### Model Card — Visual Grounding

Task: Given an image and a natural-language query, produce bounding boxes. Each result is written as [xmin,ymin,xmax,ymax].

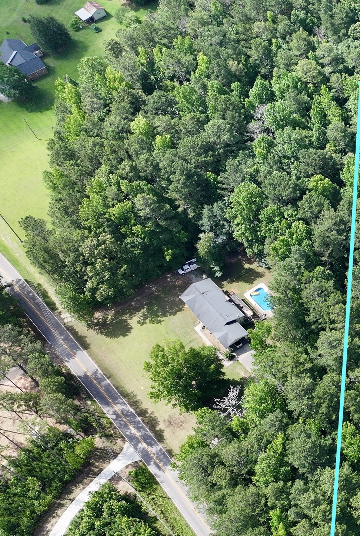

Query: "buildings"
[178,279,257,353]
[74,0,108,27]
[0,37,49,79]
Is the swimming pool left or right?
right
